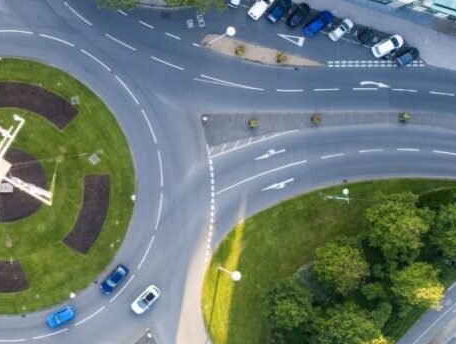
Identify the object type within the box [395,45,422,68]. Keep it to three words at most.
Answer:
car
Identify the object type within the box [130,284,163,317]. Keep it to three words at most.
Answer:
car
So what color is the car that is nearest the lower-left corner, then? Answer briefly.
blue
